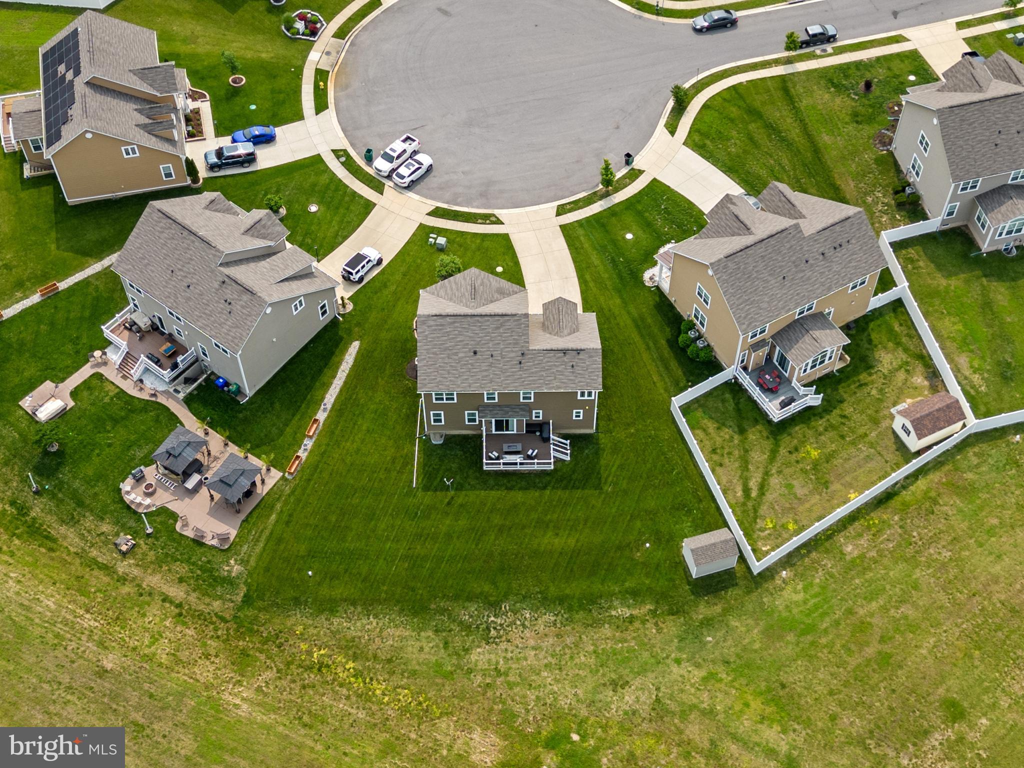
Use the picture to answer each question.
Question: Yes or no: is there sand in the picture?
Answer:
No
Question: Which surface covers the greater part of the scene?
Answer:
grass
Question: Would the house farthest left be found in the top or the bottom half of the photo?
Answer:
top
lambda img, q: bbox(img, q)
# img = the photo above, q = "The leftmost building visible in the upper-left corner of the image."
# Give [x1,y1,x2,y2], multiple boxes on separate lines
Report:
[10,11,189,204]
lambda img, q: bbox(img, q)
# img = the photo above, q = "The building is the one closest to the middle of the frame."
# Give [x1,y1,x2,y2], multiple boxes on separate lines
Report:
[417,266,602,433]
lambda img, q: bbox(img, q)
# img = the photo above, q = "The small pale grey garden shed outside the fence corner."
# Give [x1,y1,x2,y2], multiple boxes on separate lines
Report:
[683,529,740,578]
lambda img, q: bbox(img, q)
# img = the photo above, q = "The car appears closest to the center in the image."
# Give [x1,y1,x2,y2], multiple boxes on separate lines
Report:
[341,247,384,286]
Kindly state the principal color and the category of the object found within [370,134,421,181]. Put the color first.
white truck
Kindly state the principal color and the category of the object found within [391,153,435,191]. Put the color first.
white car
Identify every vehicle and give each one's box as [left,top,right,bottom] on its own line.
[341,247,384,286]
[370,134,421,181]
[203,142,257,173]
[787,20,843,49]
[691,9,739,33]
[391,153,435,191]
[961,38,999,64]
[226,125,276,145]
